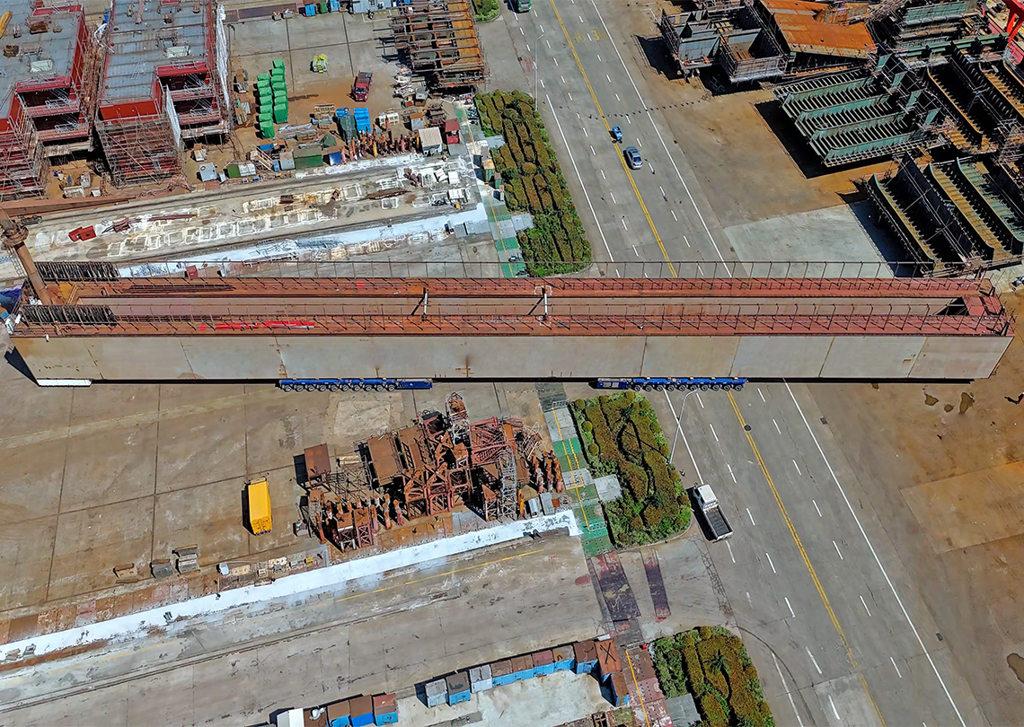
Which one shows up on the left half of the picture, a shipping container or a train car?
shipping container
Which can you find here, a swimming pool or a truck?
truck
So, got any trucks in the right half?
Yes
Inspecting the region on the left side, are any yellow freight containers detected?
Yes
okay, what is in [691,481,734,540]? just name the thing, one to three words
truck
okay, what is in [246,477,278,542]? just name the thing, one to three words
shipping container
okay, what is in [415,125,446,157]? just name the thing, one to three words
shed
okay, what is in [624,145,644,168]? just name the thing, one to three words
car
